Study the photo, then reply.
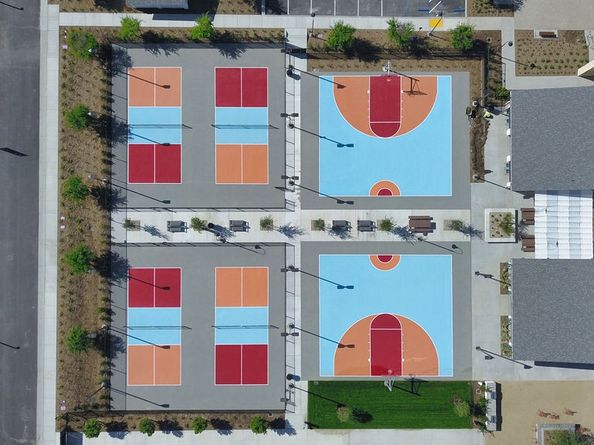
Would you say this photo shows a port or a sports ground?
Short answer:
sports ground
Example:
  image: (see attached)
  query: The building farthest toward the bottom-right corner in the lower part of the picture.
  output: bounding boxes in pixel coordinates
[506,259,594,364]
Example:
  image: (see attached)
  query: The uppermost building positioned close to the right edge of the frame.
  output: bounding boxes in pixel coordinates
[506,85,594,190]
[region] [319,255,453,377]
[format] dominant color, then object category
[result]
blue basketball court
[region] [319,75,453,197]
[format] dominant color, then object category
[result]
blue basketball court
